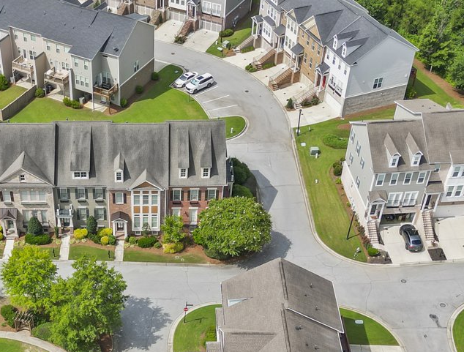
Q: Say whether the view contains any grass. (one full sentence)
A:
Yes, grass shows up in the scene.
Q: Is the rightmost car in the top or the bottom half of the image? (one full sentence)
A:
The rightmost car sits in the bottom half of the picture.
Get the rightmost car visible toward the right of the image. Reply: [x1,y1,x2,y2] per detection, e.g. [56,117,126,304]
[401,221,425,247]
